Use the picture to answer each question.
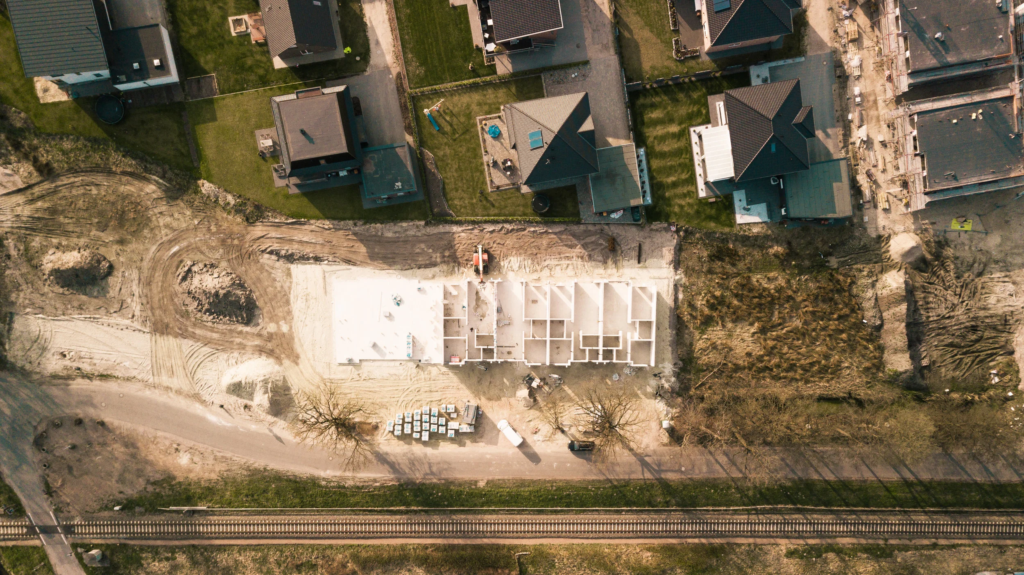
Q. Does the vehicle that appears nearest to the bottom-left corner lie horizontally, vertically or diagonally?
diagonally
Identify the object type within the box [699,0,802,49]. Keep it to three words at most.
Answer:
house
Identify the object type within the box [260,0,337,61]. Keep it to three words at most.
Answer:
house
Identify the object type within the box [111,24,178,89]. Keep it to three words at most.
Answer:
building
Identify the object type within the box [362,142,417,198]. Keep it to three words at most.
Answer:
building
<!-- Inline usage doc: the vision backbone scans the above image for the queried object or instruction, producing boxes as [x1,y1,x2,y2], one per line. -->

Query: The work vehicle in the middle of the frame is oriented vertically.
[473,245,489,290]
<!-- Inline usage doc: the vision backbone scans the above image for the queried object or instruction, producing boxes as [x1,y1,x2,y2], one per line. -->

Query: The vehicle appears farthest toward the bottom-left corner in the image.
[497,419,524,450]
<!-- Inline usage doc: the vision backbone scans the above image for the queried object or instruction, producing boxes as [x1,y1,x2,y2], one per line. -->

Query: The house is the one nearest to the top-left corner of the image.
[4,0,113,87]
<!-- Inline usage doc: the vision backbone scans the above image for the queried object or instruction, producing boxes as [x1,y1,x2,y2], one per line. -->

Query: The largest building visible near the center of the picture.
[335,278,657,367]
